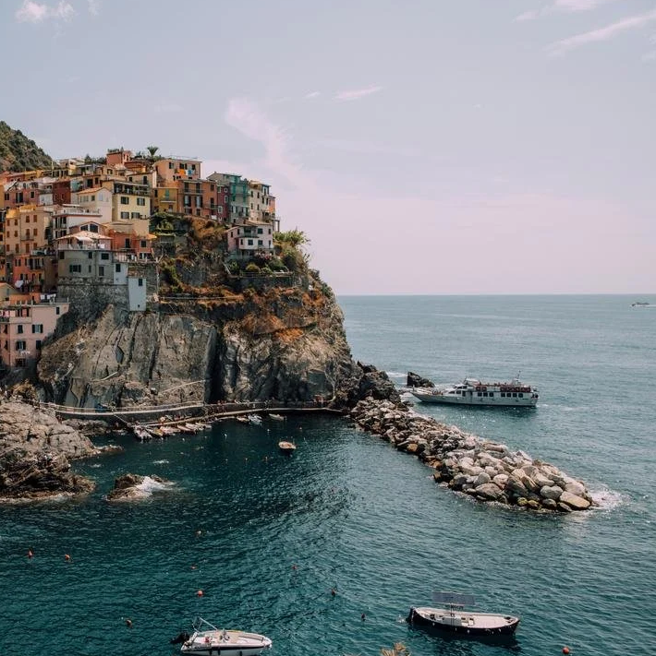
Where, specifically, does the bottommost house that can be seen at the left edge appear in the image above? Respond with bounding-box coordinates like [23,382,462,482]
[0,300,69,373]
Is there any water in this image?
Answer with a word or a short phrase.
Yes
